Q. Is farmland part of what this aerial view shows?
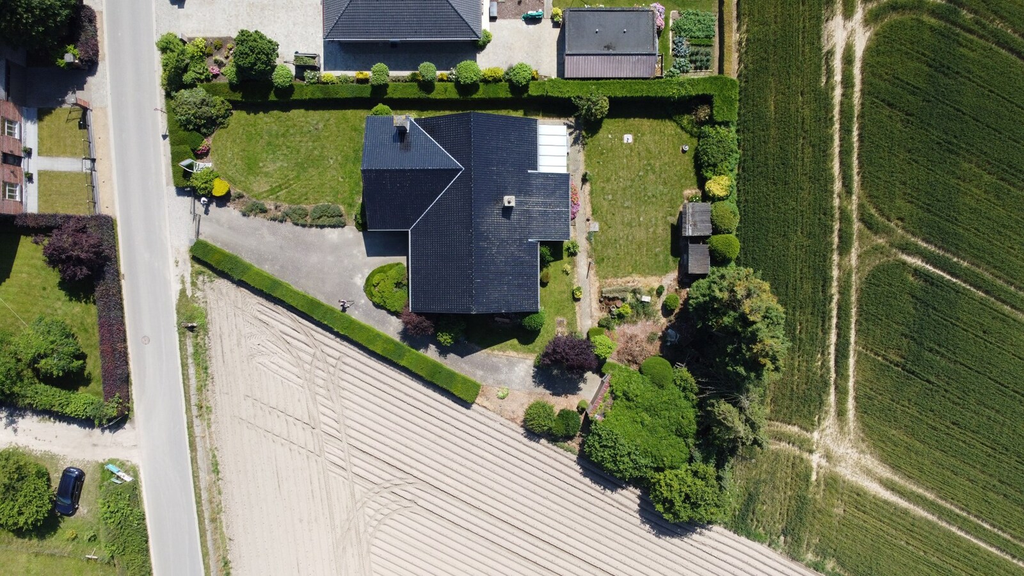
Yes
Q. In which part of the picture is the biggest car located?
bottom left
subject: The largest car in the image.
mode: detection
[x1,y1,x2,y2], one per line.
[52,465,88,519]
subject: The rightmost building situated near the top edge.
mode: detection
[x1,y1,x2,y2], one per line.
[564,8,657,80]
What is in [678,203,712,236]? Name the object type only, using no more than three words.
shed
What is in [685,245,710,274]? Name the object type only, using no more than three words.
shed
